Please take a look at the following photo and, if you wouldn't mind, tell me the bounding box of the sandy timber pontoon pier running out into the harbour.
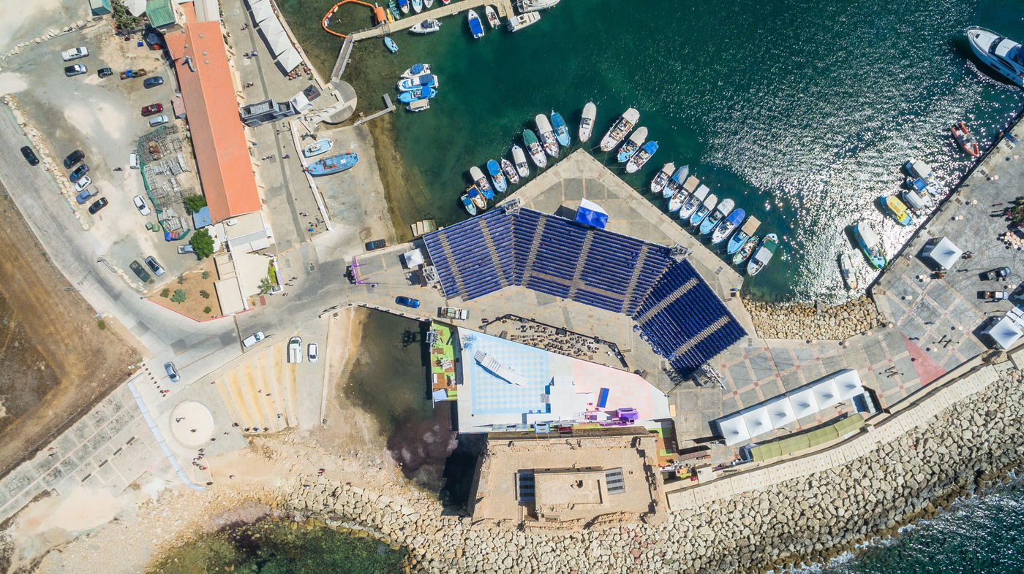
[352,0,514,42]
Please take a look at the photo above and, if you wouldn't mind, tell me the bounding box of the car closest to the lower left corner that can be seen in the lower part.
[162,360,179,384]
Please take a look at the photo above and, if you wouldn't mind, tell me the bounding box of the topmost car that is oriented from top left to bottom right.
[143,29,162,53]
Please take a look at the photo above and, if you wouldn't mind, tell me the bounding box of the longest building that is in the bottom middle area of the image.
[471,428,666,525]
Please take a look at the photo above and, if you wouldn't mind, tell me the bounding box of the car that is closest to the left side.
[17,144,38,166]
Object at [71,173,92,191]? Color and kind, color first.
white car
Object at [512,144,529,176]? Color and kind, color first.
white boat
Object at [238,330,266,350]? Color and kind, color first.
white vehicle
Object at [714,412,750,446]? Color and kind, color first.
white tent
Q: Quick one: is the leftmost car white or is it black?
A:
black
